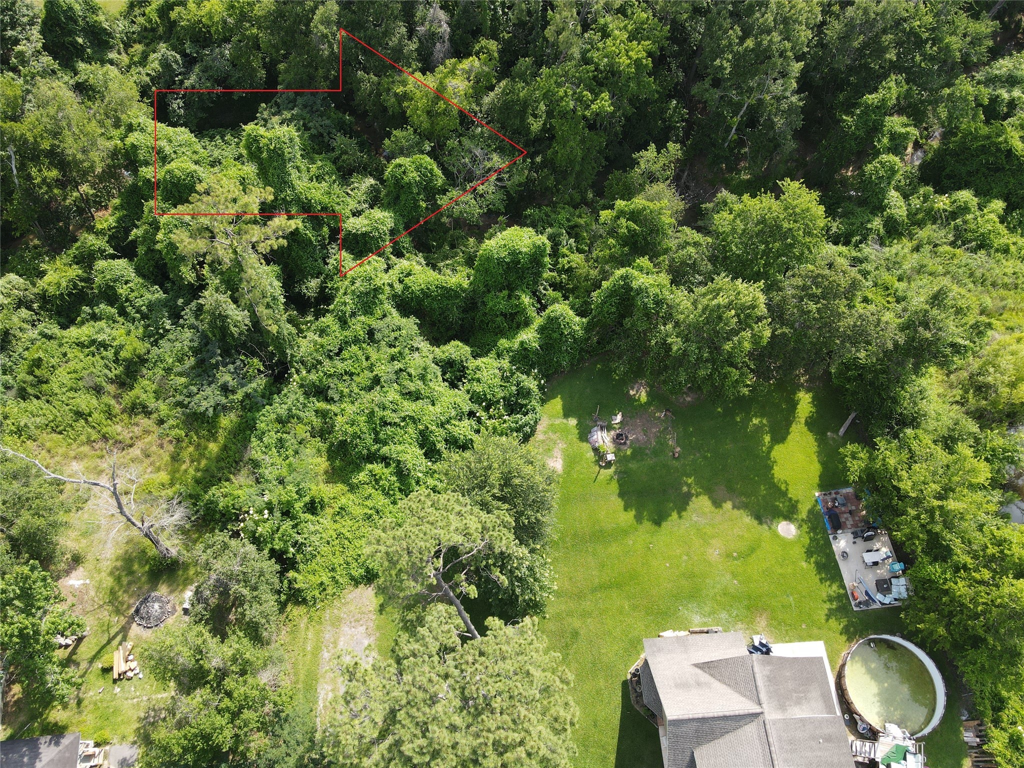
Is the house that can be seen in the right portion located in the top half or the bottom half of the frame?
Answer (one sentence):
It is in the bottom half that the house that can be seen in the right portion appears.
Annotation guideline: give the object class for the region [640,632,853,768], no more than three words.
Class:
house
